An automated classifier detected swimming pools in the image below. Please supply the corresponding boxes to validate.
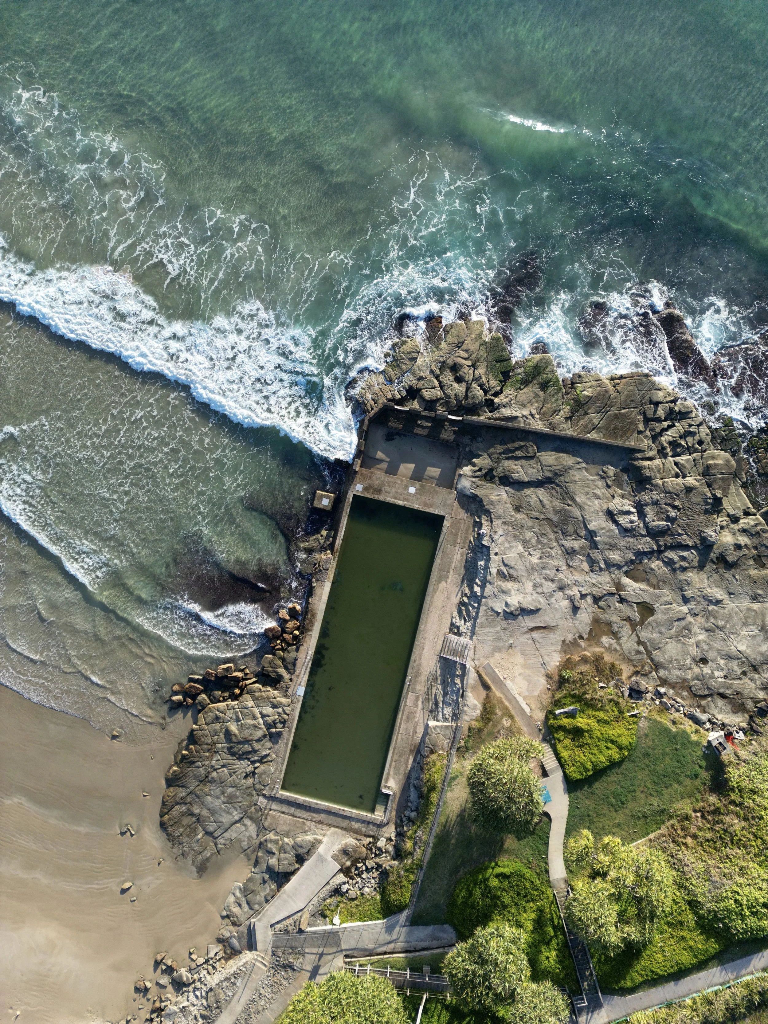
[258,468,472,844]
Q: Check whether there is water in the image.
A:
Yes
